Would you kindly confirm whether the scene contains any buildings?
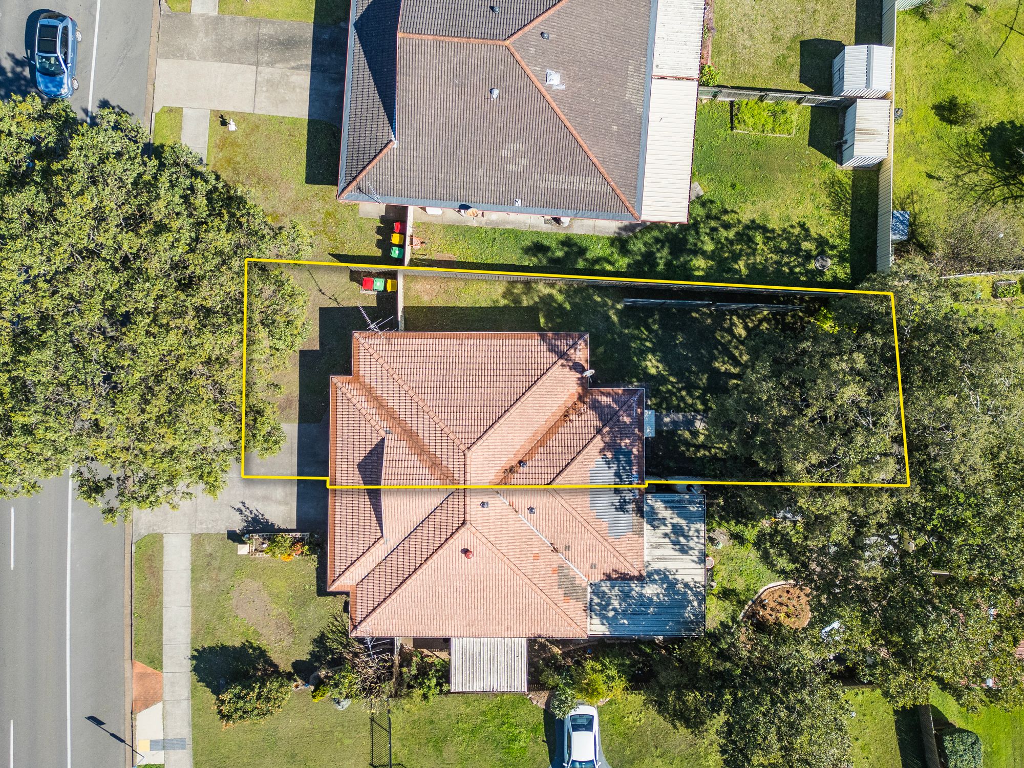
Yes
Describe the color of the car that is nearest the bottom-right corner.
white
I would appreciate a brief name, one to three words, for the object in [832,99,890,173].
shed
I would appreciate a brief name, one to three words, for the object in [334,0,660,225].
house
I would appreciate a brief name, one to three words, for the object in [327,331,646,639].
house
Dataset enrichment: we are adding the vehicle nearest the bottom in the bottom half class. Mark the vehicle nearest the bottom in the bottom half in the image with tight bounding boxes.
[562,700,603,768]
